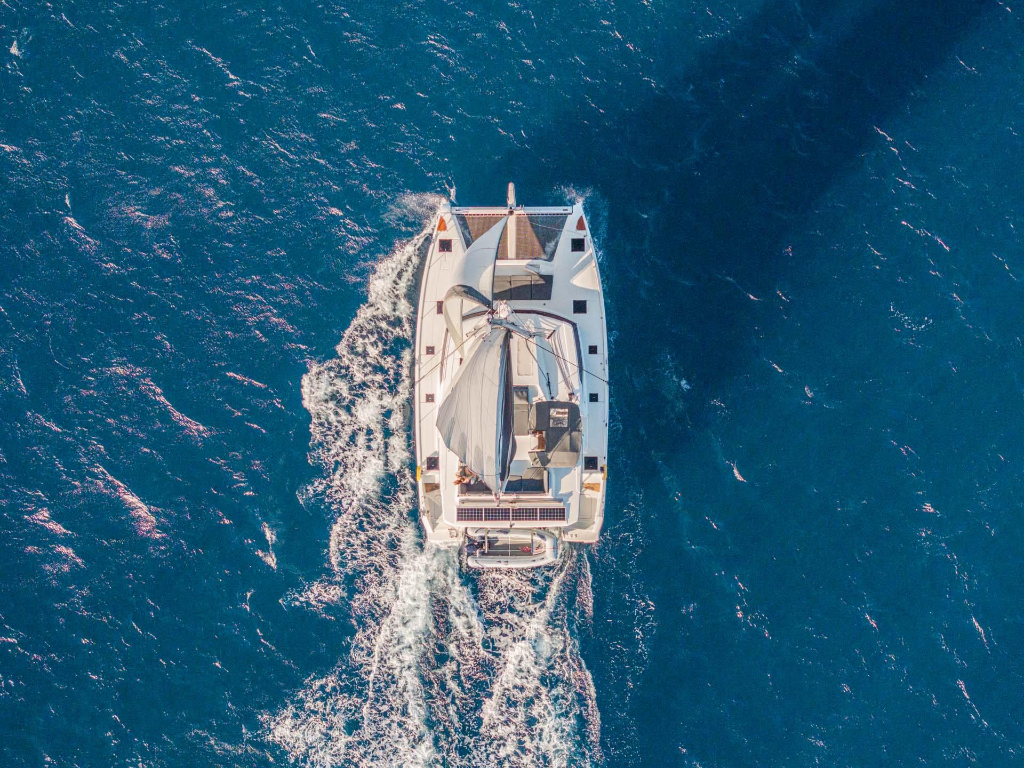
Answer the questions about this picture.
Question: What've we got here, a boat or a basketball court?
boat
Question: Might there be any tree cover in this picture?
No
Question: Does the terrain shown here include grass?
No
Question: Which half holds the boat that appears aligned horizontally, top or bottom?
bottom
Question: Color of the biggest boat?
white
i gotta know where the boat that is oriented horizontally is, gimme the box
[465,526,557,568]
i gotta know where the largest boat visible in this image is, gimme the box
[415,183,609,542]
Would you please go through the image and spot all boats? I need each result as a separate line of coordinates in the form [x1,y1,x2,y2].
[465,526,557,568]
[415,183,609,542]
